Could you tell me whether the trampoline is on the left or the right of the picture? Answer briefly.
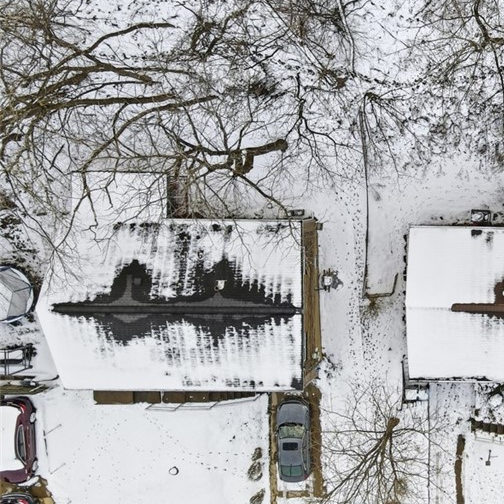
left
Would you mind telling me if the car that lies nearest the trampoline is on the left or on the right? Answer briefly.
left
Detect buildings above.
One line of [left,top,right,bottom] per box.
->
[404,225,504,403]
[36,173,319,393]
